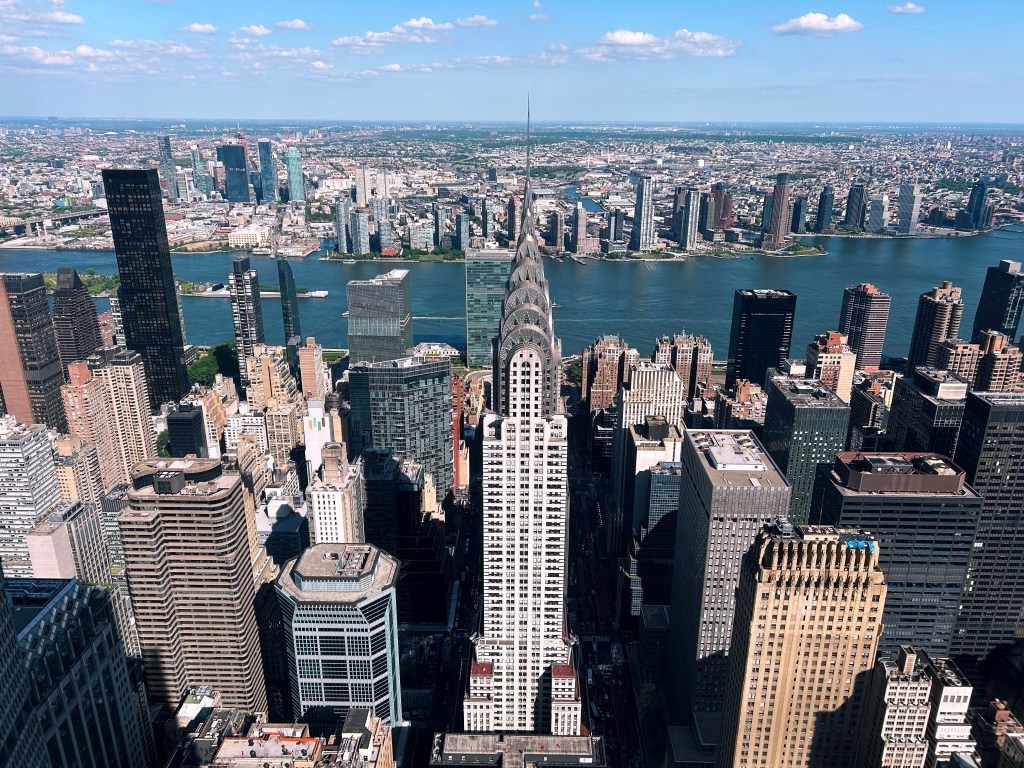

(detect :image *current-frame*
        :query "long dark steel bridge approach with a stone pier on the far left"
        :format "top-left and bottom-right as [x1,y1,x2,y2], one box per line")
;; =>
[0,211,110,238]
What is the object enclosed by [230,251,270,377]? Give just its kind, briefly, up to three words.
building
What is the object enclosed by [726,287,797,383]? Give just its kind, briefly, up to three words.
building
